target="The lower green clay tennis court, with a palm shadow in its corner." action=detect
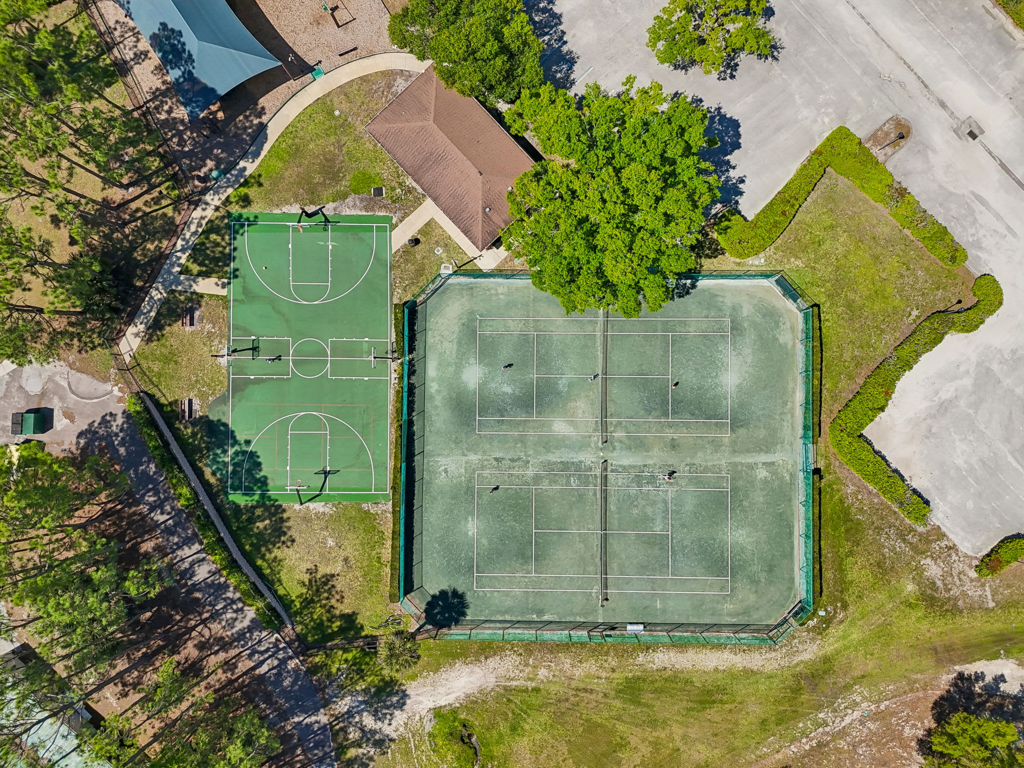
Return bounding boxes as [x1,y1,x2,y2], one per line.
[404,454,801,634]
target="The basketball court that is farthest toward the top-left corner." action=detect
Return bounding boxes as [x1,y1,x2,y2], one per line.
[208,212,392,502]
